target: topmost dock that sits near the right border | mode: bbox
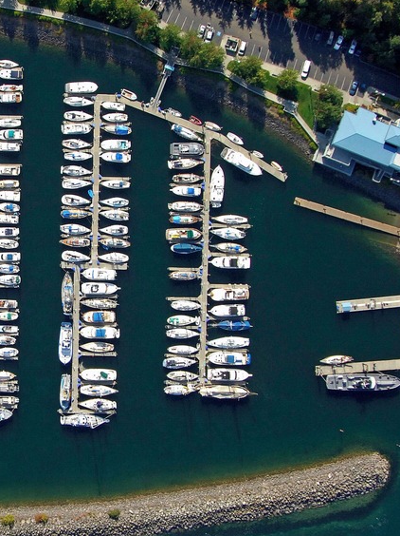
[293,197,398,234]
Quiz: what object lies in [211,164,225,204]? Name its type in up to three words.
boat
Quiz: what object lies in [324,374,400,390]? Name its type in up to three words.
vessel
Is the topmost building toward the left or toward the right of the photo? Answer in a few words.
right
